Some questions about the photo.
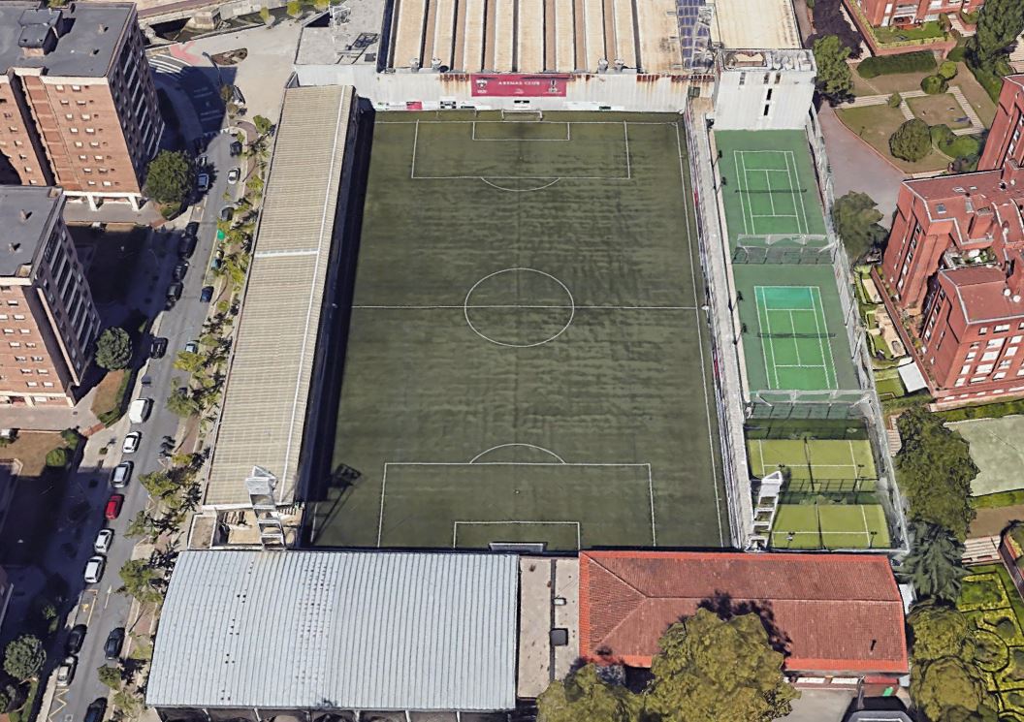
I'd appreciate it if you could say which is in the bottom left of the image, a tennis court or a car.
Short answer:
car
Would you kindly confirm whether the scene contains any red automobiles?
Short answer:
Yes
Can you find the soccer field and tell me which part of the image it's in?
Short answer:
center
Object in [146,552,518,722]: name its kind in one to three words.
building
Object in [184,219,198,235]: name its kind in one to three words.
car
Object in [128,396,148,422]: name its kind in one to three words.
vehicle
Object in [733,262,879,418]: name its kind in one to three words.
tennis court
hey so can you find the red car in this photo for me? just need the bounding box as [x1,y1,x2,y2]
[104,493,123,517]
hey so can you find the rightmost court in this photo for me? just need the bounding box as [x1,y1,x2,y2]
[959,413,1024,494]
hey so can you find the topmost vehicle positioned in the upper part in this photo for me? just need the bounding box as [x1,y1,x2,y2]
[230,82,244,103]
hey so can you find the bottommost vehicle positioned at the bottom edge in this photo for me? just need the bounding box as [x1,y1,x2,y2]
[85,697,105,722]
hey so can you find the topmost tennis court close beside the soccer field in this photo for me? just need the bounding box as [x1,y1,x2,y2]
[715,129,842,262]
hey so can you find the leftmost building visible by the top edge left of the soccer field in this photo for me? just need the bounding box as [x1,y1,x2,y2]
[0,0,159,211]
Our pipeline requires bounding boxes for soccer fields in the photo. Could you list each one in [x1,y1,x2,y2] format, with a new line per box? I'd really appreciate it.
[297,109,731,579]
